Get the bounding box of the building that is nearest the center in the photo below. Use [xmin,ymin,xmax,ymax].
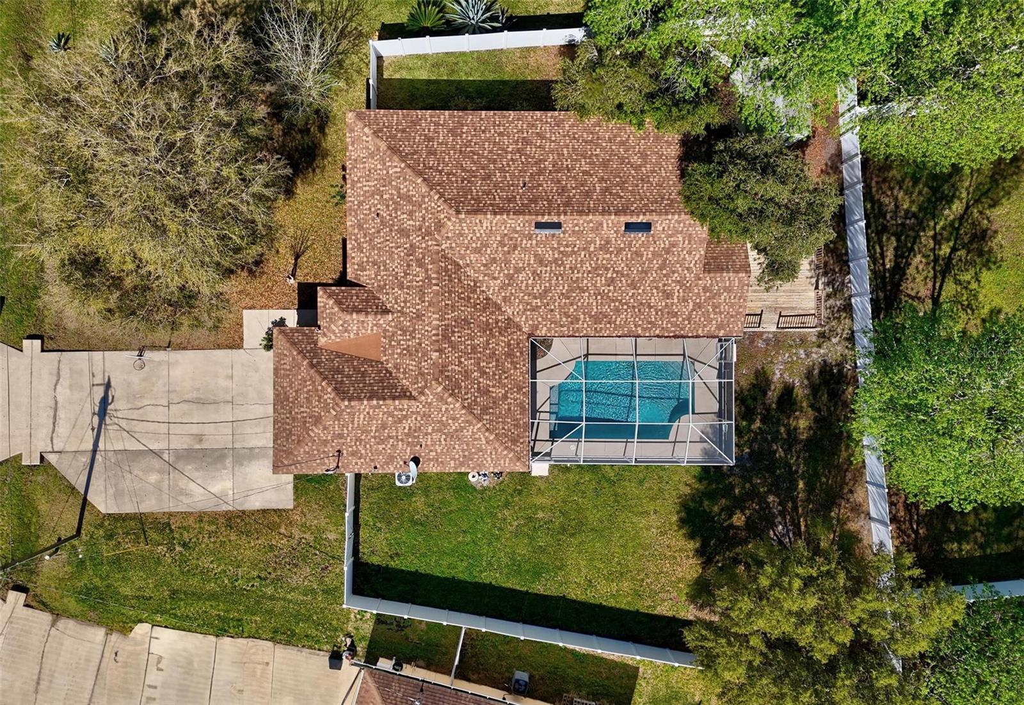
[271,107,752,475]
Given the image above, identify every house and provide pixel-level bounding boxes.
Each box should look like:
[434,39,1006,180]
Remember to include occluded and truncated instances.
[345,654,558,705]
[271,107,752,475]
